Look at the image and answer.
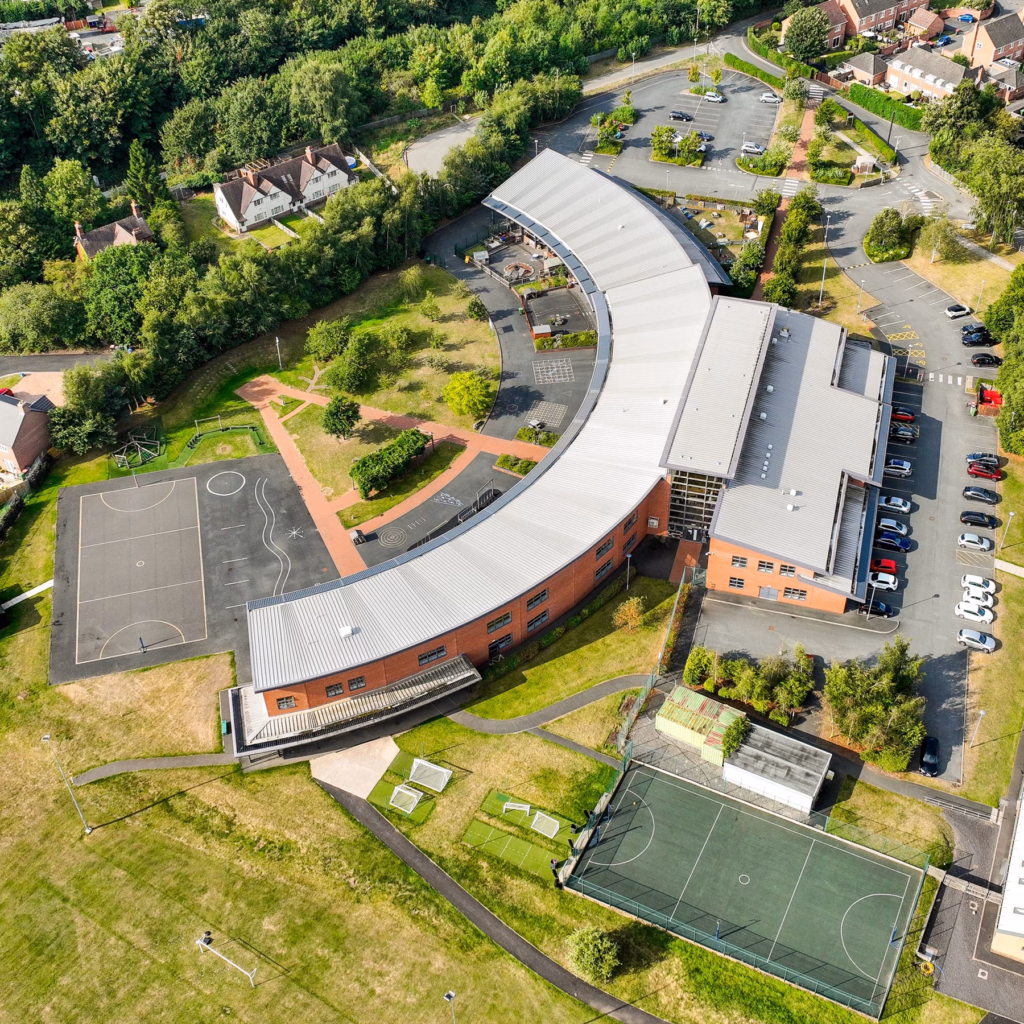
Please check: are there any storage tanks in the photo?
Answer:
No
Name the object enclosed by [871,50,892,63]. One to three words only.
vehicle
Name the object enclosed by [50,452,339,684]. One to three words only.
playground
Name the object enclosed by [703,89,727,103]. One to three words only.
car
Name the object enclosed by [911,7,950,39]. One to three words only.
building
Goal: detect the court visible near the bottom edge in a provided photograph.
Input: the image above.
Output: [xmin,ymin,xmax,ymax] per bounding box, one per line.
[573,762,924,1017]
